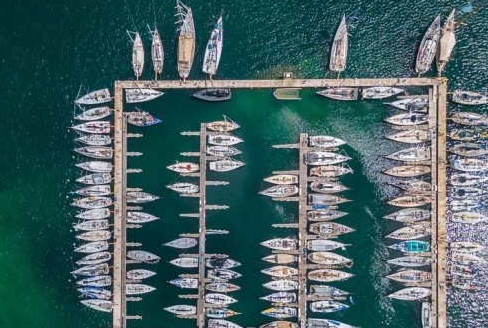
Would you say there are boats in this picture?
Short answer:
Yes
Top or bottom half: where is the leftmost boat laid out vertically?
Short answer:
top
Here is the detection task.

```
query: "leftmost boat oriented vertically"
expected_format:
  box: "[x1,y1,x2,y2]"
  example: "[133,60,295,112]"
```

[125,2,145,82]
